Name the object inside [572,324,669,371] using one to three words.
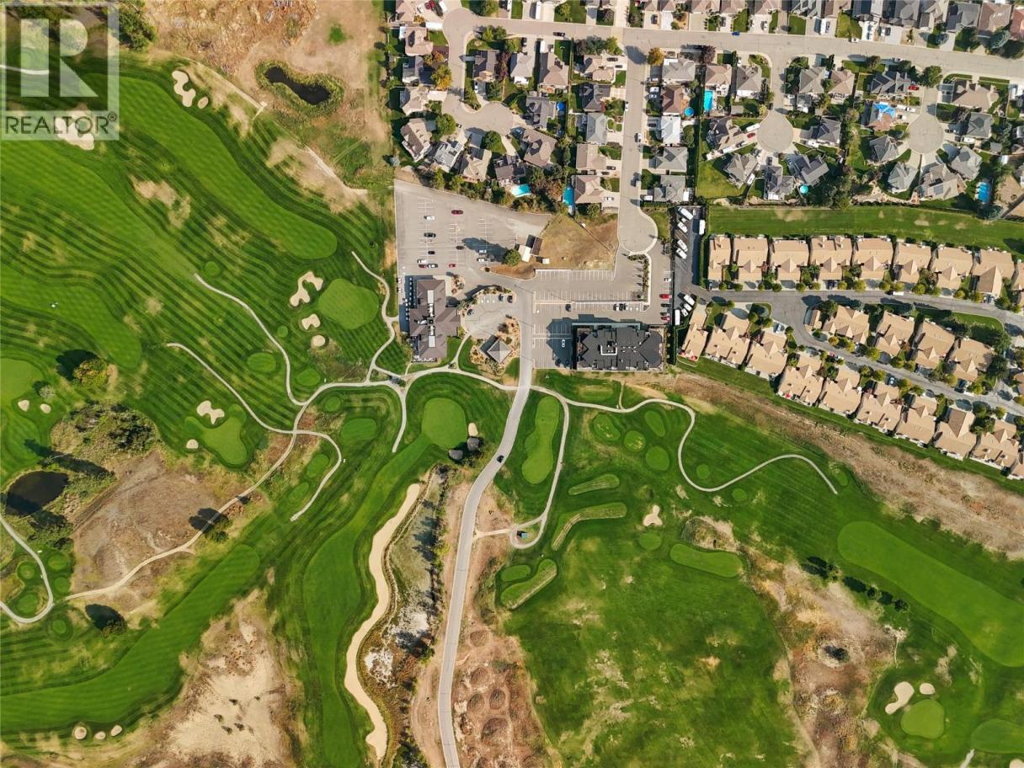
building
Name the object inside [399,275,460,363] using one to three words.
building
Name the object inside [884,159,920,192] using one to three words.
house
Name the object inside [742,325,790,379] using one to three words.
house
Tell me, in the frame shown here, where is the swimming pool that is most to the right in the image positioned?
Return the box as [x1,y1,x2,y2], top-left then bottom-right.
[977,180,992,201]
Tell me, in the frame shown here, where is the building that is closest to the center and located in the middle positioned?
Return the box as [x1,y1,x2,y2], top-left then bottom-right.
[486,337,513,364]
